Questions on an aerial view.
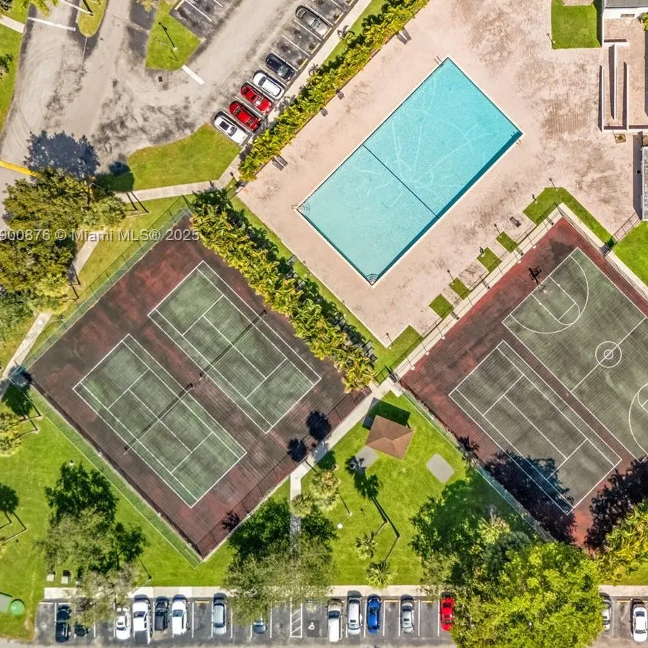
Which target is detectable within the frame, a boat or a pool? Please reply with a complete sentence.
There is a pool in the scene.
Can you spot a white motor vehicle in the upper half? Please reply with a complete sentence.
Yes, there is a white motor vehicle in the upper half.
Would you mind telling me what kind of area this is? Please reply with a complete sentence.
This looks like a sports ground.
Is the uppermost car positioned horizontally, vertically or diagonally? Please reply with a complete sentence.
The uppermost car is oriented diagonally.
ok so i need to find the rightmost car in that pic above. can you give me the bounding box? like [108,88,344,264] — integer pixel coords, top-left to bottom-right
[632,599,648,634]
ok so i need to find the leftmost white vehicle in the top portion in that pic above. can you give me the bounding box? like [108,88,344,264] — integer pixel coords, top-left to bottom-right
[214,113,248,142]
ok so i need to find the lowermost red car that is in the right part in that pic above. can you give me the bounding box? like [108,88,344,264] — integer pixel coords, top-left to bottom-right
[439,595,455,628]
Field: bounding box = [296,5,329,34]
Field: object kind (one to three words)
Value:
car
